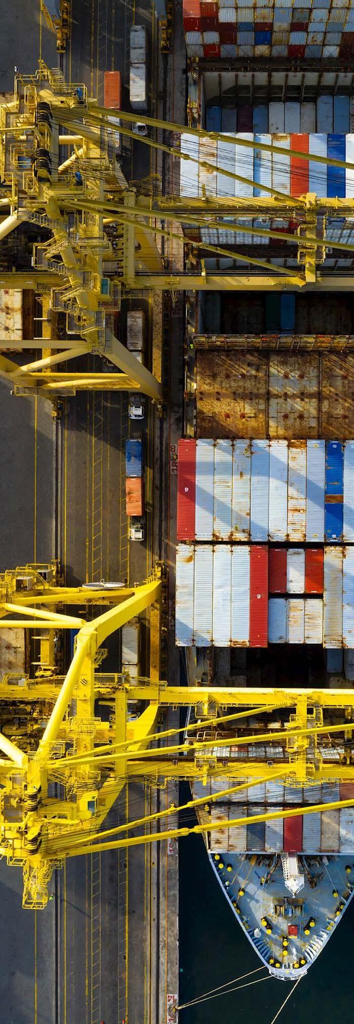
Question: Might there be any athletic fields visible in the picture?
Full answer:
No, no athletic field can be seen from above.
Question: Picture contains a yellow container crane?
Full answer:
Yes, there's a yellow container crane here.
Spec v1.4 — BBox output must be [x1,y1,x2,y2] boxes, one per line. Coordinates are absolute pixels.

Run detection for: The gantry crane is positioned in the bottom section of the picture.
[0,559,354,916]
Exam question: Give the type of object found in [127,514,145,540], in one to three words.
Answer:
vehicle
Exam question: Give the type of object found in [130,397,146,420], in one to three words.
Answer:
vehicle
